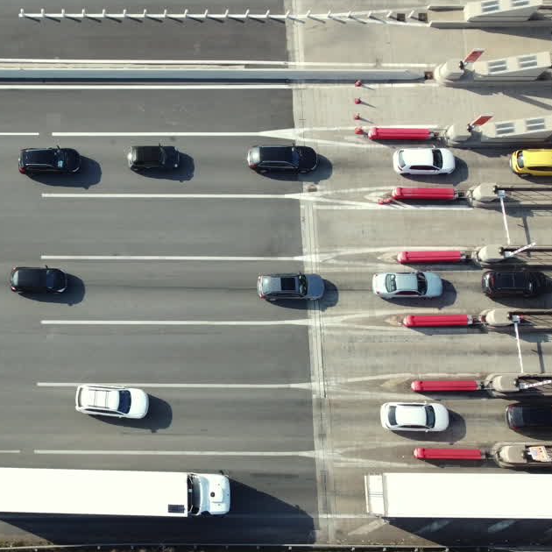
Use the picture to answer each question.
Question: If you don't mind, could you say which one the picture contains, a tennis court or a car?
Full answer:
I can see a car in this picture.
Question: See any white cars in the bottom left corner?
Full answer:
Yes, you'll find a white car in the bottom left corner.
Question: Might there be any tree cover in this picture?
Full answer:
No, no tree cover is visible.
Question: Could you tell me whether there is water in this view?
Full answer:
No, water can't be seen anywhere here.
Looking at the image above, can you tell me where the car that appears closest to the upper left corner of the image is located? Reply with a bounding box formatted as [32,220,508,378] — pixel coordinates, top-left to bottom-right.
[16,143,80,176]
